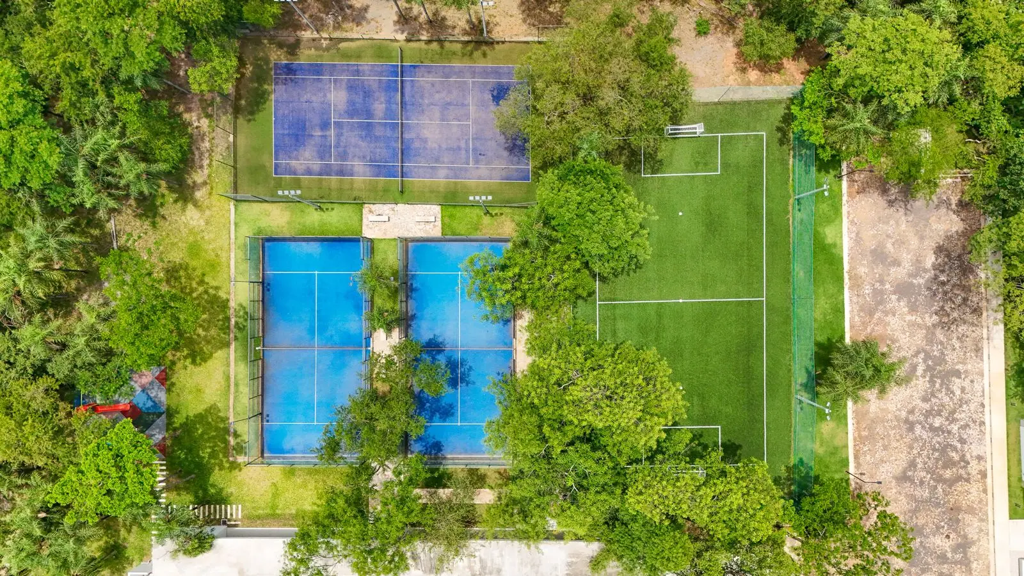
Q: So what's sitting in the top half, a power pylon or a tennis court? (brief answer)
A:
tennis court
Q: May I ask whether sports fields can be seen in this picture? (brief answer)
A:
Yes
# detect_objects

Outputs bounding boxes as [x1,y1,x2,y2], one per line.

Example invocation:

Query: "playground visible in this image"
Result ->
[75,366,166,459]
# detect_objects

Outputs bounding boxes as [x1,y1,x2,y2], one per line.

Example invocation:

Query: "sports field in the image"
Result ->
[571,99,794,502]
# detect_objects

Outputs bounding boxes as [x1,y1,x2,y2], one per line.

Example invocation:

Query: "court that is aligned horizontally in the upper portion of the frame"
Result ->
[234,41,570,205]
